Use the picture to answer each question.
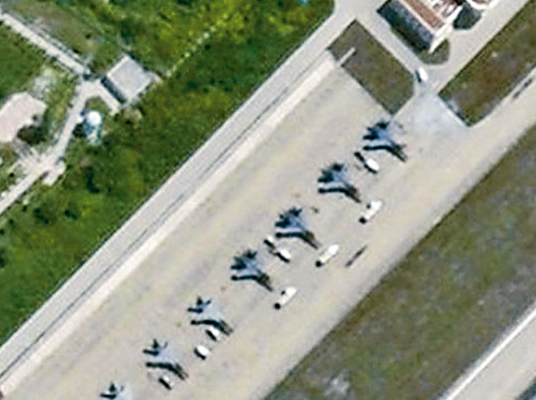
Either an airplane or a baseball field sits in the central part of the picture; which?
airplane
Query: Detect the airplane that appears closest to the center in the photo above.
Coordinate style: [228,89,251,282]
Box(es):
[273,200,320,242]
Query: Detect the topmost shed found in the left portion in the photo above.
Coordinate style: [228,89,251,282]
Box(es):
[106,54,154,106]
